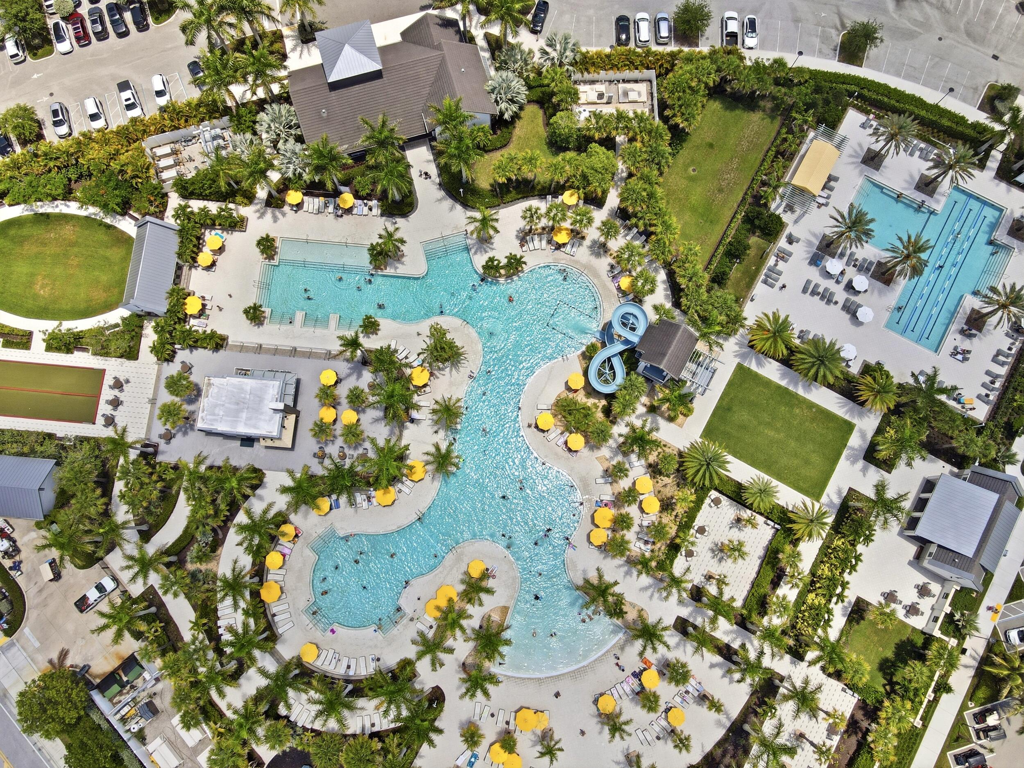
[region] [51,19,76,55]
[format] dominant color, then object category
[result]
white car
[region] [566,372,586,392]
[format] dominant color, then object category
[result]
yellow umbrella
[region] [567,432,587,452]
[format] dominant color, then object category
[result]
yellow umbrella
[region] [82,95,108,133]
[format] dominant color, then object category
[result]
white car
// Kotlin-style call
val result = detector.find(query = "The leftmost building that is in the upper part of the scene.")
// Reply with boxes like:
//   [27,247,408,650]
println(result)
[119,211,187,318]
